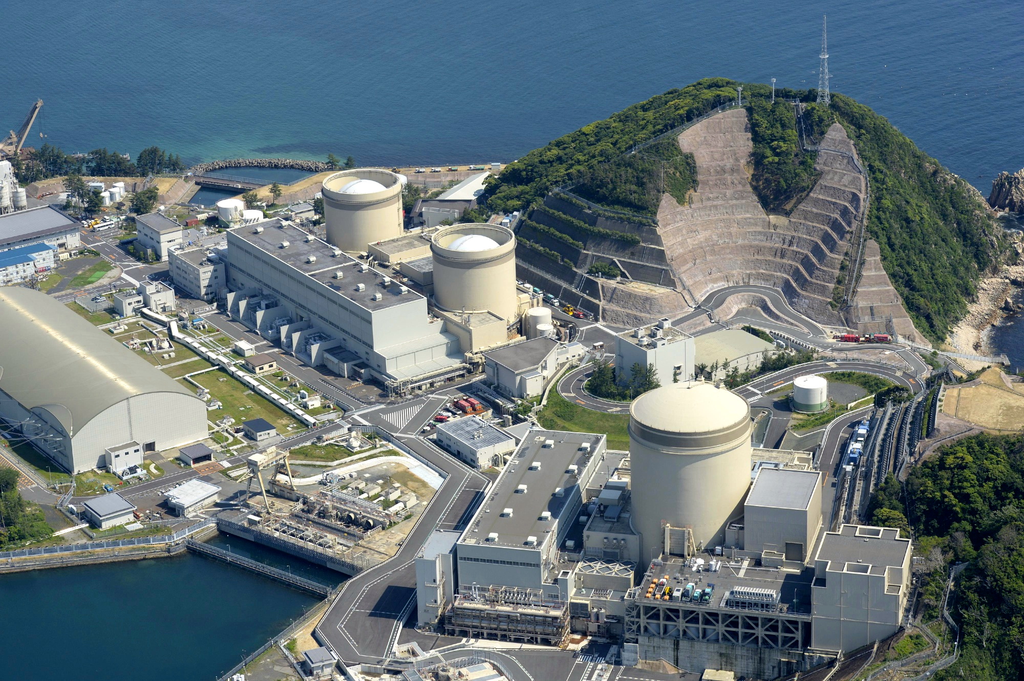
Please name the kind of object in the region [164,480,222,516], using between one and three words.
house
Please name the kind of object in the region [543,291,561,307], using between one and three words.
vehicle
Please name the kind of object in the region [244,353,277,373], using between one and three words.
building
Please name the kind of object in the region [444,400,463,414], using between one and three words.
vehicle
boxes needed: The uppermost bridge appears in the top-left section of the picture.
[175,170,261,198]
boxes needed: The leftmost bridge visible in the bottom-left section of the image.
[190,540,334,601]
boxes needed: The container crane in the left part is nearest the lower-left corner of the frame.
[235,442,298,514]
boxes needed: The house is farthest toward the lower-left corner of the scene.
[81,493,137,529]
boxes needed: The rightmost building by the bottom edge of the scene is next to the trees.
[811,524,911,660]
